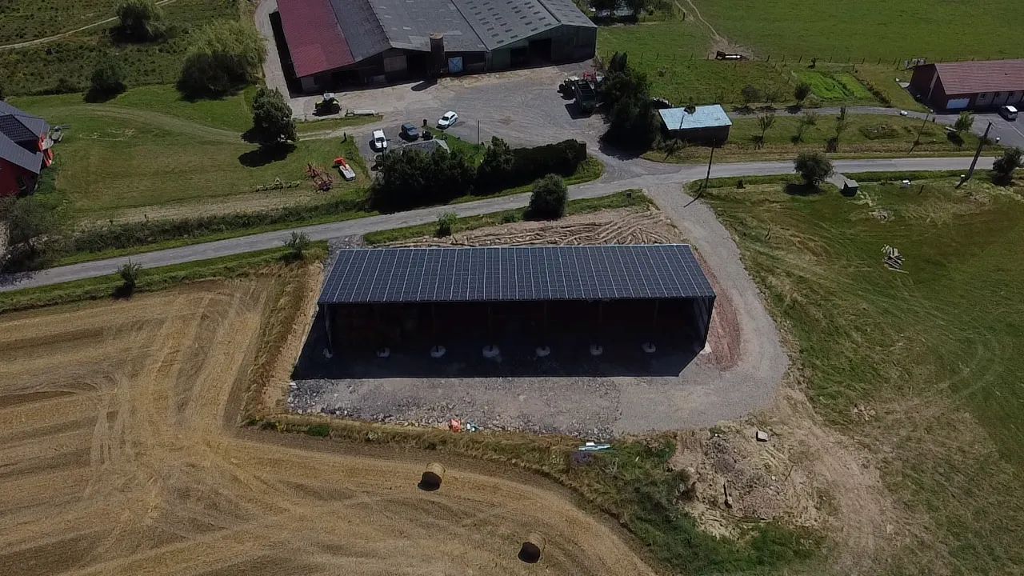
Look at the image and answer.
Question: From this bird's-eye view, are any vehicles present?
Yes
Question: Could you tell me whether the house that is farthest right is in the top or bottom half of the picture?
top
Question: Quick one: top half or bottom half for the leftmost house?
top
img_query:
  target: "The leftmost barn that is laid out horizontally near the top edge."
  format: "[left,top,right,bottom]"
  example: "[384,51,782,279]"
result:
[273,0,491,93]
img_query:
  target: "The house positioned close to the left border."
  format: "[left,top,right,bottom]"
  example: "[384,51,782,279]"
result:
[0,101,56,193]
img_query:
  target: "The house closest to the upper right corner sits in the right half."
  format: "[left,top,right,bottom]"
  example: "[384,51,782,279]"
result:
[902,62,1024,109]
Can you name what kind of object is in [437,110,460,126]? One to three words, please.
car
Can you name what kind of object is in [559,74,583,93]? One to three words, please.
work vehicle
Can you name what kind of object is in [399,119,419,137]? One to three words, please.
car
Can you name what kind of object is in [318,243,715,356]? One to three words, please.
shed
